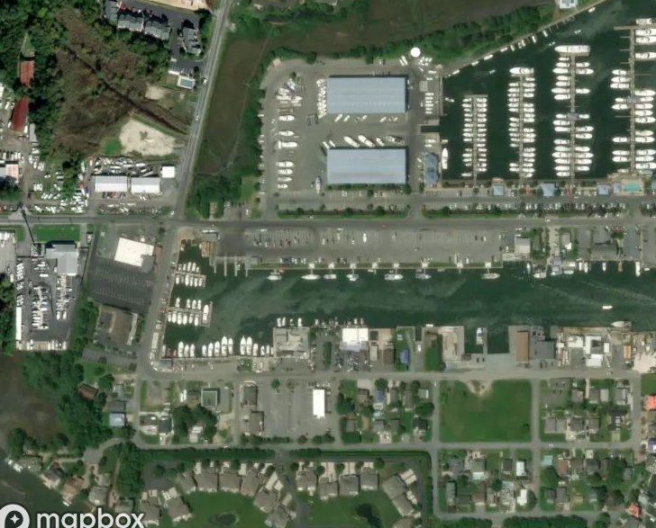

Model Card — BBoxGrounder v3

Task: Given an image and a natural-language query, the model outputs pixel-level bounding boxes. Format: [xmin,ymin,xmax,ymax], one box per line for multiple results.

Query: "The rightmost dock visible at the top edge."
[614,24,656,175]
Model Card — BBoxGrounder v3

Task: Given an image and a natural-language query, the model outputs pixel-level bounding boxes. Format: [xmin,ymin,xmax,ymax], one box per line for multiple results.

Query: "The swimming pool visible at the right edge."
[622,180,644,195]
